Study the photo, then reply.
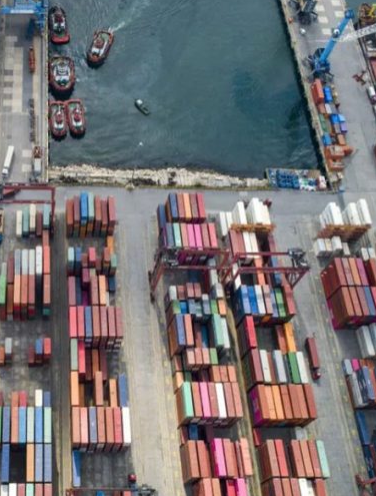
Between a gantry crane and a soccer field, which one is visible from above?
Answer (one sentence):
This aerial view contains a gantry crane.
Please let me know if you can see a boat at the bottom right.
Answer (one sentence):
No, I can find no boat at the bottom right.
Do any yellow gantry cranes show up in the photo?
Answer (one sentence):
No, no yellow gantry crane is visible in the view.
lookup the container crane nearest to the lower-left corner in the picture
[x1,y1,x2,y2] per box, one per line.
[63,481,157,496]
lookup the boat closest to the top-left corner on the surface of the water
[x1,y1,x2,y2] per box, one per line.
[49,8,70,47]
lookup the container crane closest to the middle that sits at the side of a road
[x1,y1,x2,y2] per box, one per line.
[145,247,233,302]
